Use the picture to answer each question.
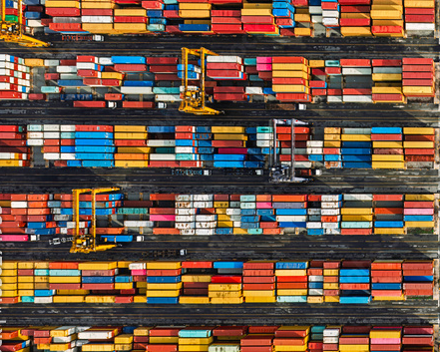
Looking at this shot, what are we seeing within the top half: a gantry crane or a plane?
gantry crane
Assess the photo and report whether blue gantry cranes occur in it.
No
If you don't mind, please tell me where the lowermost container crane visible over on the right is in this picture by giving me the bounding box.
[269,118,310,185]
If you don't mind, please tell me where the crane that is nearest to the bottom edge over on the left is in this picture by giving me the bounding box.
[71,187,124,254]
